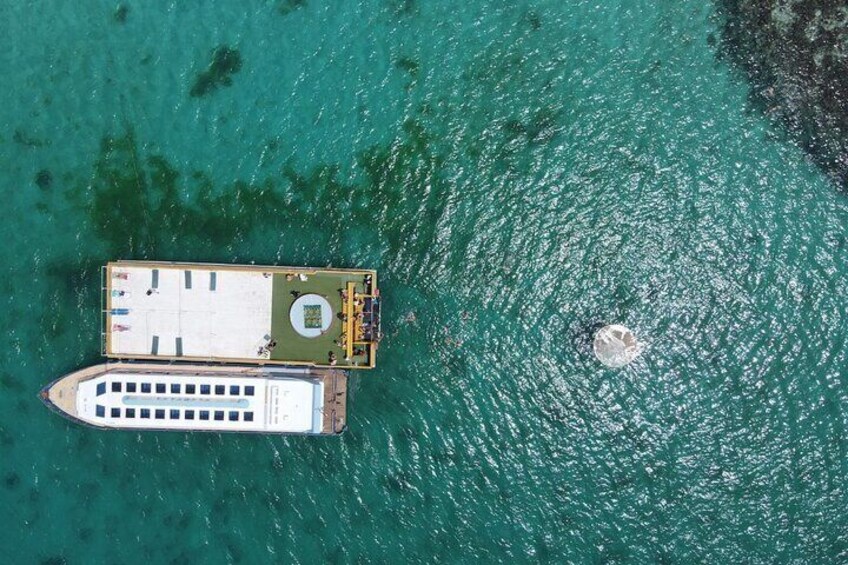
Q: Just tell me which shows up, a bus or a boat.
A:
boat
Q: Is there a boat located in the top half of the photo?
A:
No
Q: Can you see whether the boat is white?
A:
Yes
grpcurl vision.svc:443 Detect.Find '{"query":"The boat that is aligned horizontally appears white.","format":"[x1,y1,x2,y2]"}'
[37,363,349,435]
